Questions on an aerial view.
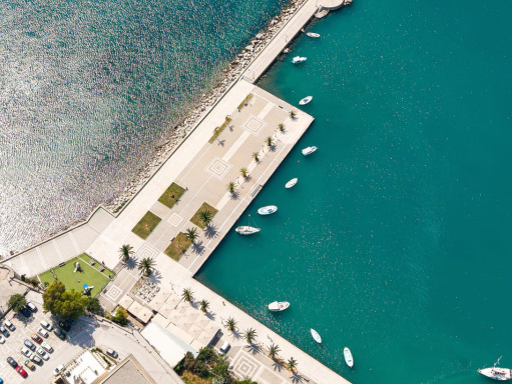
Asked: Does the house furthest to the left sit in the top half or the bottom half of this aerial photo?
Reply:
bottom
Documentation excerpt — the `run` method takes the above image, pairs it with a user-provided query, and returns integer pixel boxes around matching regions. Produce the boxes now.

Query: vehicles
[19,344,32,358]
[58,318,72,332]
[28,352,45,367]
[5,354,19,368]
[29,330,43,345]
[23,299,38,313]
[217,338,232,354]
[52,326,67,341]
[17,304,32,318]
[2,318,17,332]
[0,334,6,345]
[39,338,55,354]
[52,361,65,376]
[13,363,29,379]
[35,346,51,361]
[36,325,50,339]
[22,336,37,352]
[0,324,11,338]
[105,346,120,361]
[23,357,38,372]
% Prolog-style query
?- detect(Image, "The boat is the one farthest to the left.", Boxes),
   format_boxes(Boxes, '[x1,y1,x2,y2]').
[235,217,260,233]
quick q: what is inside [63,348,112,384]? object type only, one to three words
house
